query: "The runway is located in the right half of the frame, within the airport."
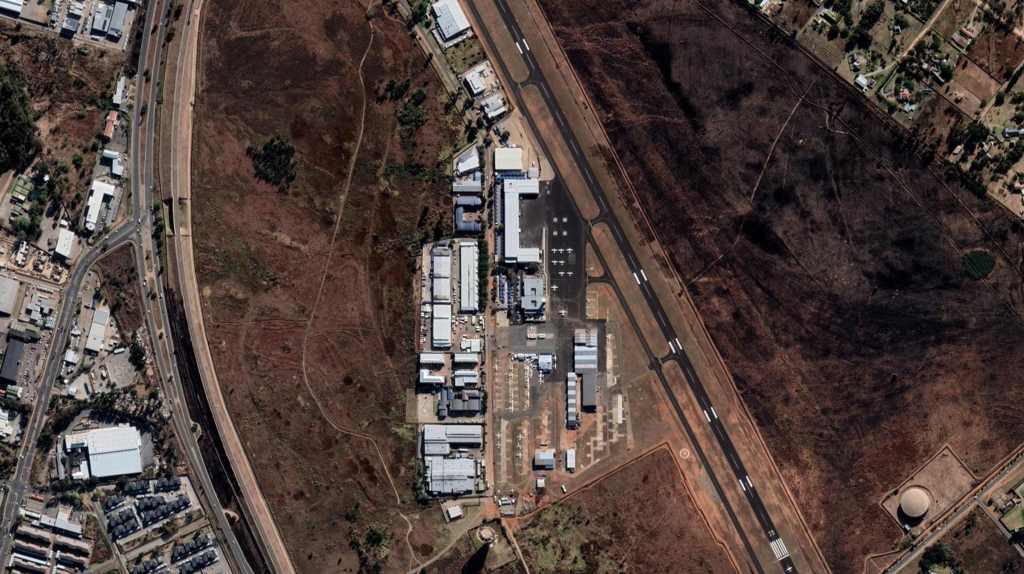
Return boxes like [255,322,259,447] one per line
[493,0,798,574]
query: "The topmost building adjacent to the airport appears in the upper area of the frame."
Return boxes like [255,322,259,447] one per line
[433,0,470,38]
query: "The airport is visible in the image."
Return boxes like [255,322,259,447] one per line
[466,0,798,574]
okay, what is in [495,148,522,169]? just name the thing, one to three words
hangar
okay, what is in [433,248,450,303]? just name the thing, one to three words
building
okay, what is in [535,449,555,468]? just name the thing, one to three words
hangar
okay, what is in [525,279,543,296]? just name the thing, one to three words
building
